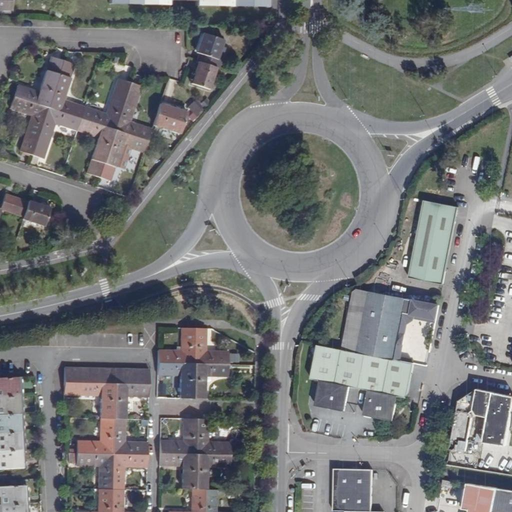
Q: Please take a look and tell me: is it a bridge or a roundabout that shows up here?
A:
roundabout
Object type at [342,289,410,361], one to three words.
building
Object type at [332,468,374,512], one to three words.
building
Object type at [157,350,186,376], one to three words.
house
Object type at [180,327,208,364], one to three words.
house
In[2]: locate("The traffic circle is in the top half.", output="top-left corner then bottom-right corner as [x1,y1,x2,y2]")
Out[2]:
[201,93,398,291]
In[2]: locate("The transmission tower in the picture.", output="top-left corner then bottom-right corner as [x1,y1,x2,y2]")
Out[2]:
[450,5,494,20]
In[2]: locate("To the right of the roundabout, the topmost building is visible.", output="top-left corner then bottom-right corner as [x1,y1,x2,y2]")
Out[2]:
[408,200,460,286]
